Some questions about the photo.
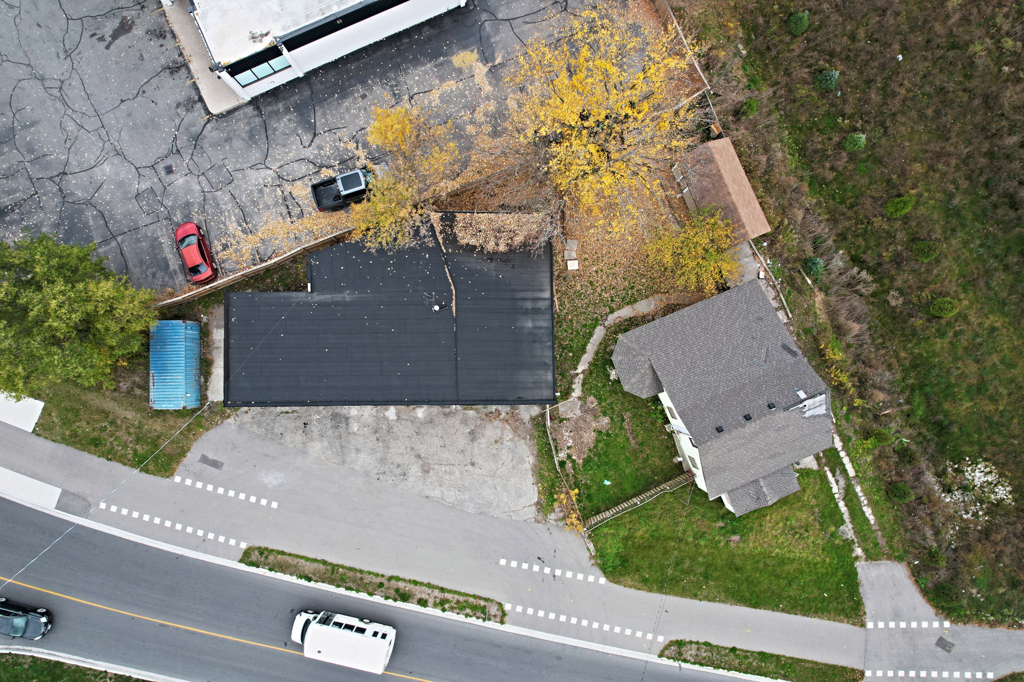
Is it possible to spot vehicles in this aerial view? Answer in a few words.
Yes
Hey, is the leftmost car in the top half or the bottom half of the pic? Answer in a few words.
bottom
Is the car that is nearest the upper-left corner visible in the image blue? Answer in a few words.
No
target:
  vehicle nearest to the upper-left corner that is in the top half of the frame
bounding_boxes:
[176,222,218,288]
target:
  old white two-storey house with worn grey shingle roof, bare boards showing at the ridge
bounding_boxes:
[611,278,836,517]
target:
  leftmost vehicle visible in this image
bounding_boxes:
[0,595,50,637]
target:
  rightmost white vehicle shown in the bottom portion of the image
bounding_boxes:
[289,604,396,672]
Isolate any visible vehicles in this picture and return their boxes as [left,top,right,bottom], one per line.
[289,604,396,672]
[309,157,394,210]
[0,595,50,637]
[176,222,218,288]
